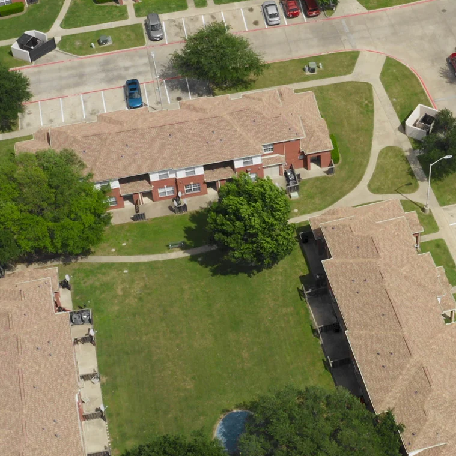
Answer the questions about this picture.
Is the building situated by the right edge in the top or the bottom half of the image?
bottom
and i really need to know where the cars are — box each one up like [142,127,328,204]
[448,53,456,77]
[261,0,281,26]
[125,79,143,108]
[280,0,301,18]
[146,11,163,39]
[301,0,321,17]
